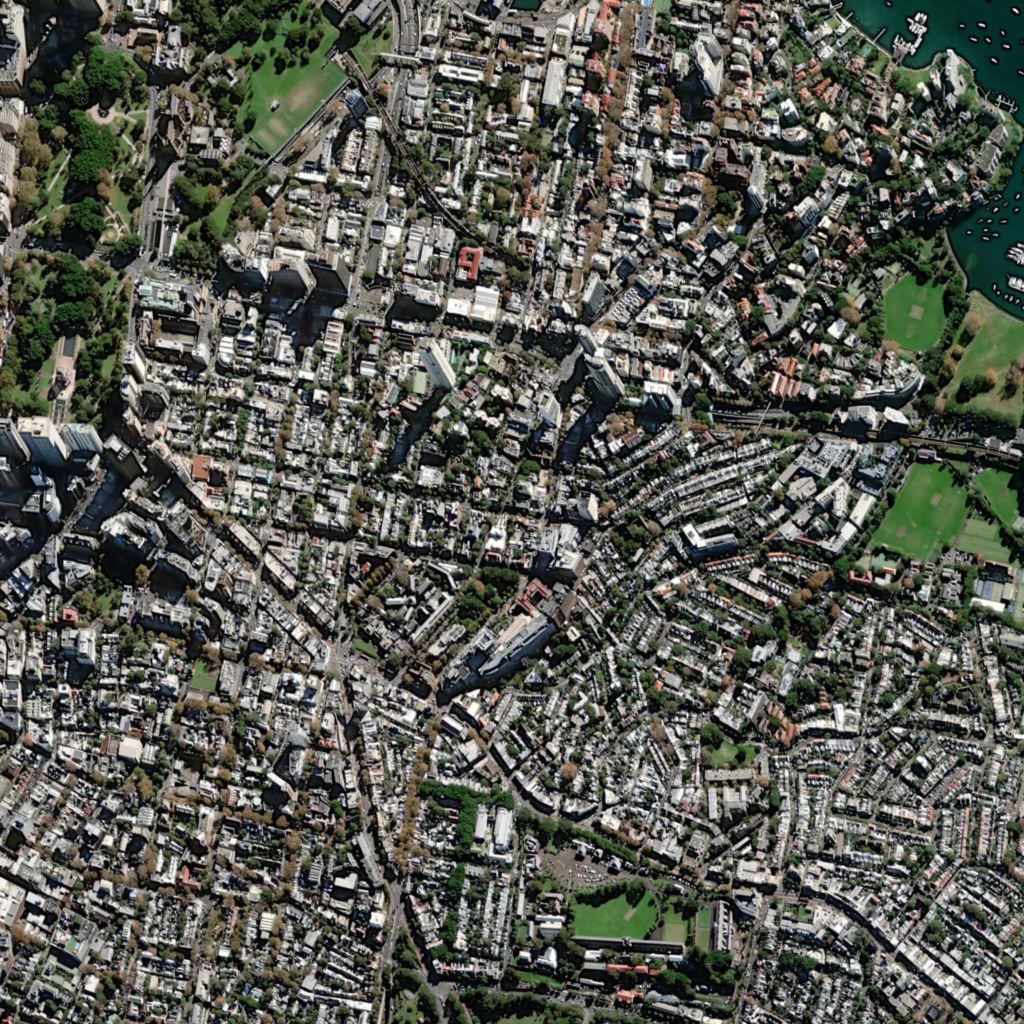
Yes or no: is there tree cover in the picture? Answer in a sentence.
Yes, some tree cover is visible.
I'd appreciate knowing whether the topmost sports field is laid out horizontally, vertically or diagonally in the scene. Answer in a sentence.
From this overhead view, the topmost sports field appears to run diagonally.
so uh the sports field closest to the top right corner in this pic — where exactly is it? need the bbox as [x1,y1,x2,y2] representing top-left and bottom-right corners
[883,273,947,352]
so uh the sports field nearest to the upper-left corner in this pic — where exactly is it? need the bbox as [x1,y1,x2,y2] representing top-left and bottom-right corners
[253,50,347,154]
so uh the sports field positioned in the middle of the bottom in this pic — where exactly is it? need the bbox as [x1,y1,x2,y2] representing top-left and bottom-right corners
[575,886,659,939]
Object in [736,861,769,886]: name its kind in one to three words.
building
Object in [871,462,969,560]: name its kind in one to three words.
sports field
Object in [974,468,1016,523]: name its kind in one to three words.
sports field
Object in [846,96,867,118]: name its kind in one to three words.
house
